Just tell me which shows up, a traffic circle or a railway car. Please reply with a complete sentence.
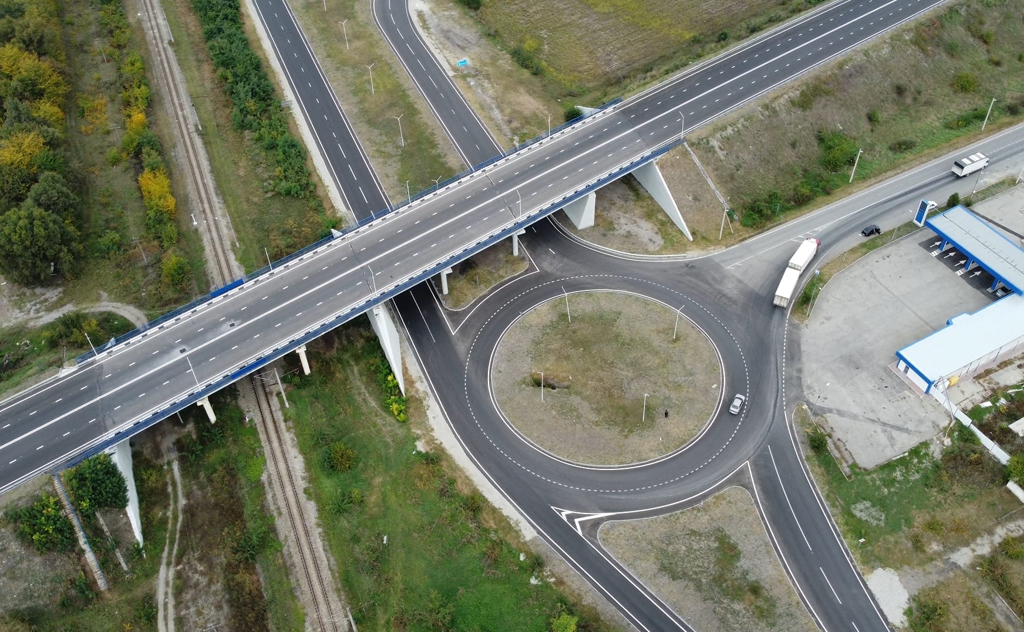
Looking from above, you can make out a traffic circle.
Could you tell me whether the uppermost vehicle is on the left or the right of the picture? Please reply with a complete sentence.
You can find the uppermost vehicle on the right side of the picture.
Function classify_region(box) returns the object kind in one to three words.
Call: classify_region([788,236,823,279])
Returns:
truck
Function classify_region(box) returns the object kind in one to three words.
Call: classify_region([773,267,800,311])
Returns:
trailer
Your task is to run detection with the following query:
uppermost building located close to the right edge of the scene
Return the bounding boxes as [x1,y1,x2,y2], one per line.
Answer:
[893,292,1024,394]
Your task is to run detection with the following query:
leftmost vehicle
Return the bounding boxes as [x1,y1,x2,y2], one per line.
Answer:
[727,392,747,418]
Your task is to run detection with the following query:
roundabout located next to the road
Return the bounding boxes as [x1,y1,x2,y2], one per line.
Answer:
[432,249,806,545]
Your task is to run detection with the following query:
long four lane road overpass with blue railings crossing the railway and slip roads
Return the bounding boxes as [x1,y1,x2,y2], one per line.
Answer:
[75,94,696,567]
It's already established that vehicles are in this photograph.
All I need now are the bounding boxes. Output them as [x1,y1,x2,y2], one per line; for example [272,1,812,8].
[954,153,986,175]
[788,236,823,279]
[926,199,941,210]
[860,224,883,238]
[996,282,1019,297]
[727,392,747,418]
